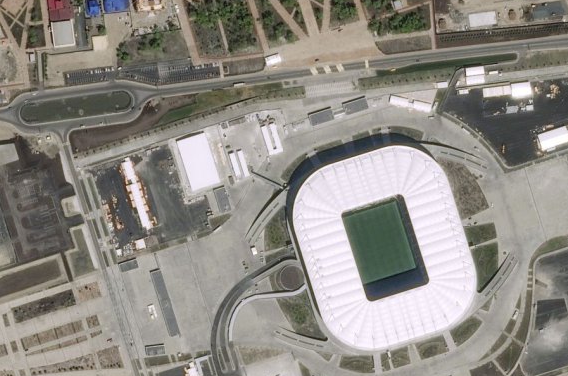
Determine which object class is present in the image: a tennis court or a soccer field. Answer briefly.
soccer field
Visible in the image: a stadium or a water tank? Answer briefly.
stadium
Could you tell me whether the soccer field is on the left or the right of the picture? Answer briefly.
right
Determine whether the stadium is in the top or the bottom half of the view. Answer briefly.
bottom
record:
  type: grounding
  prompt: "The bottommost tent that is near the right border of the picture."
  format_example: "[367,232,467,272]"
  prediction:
[536,125,568,151]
